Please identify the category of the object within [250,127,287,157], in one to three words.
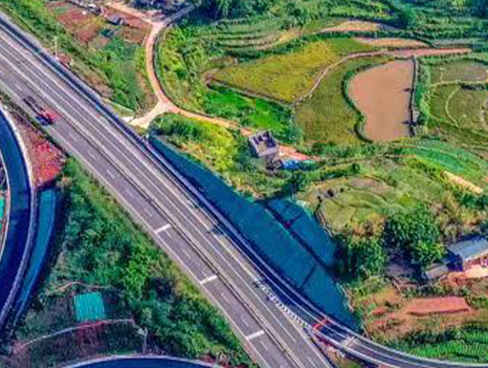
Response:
house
